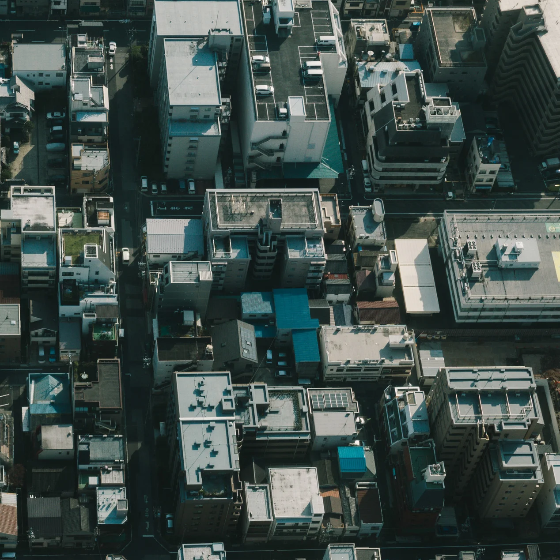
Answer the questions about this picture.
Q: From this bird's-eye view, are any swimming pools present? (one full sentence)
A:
No, there appears to be no swimming pool in this shot.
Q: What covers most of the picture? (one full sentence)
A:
Most of the picture is covered by buildings.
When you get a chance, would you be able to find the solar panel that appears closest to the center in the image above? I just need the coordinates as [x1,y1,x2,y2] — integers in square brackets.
[236,322,257,363]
